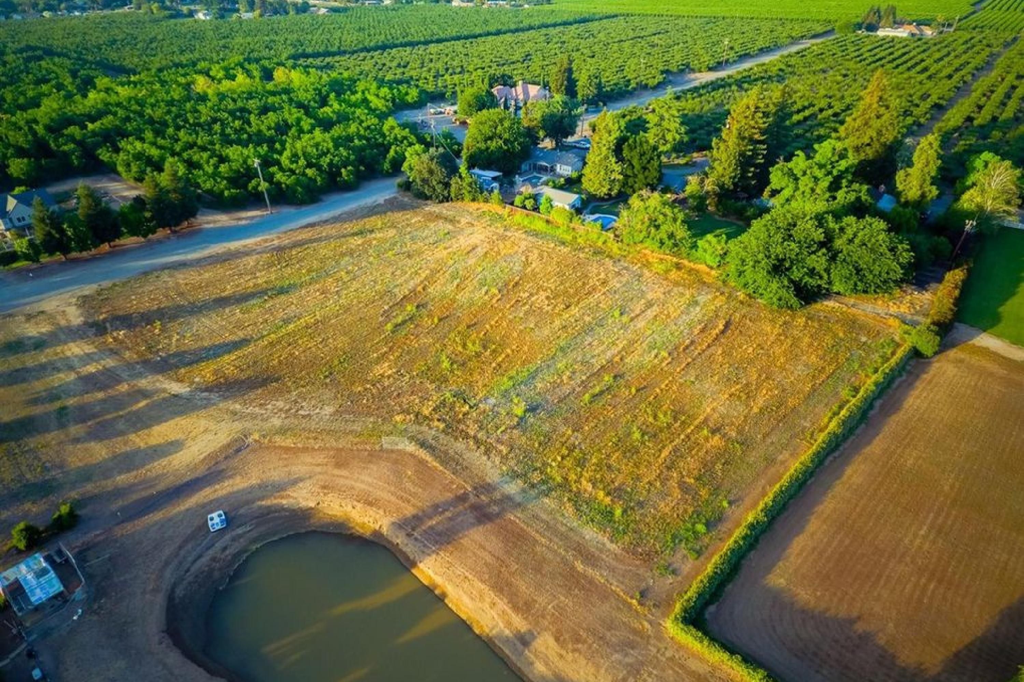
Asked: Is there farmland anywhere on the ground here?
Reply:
Yes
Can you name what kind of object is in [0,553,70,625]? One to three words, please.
shed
